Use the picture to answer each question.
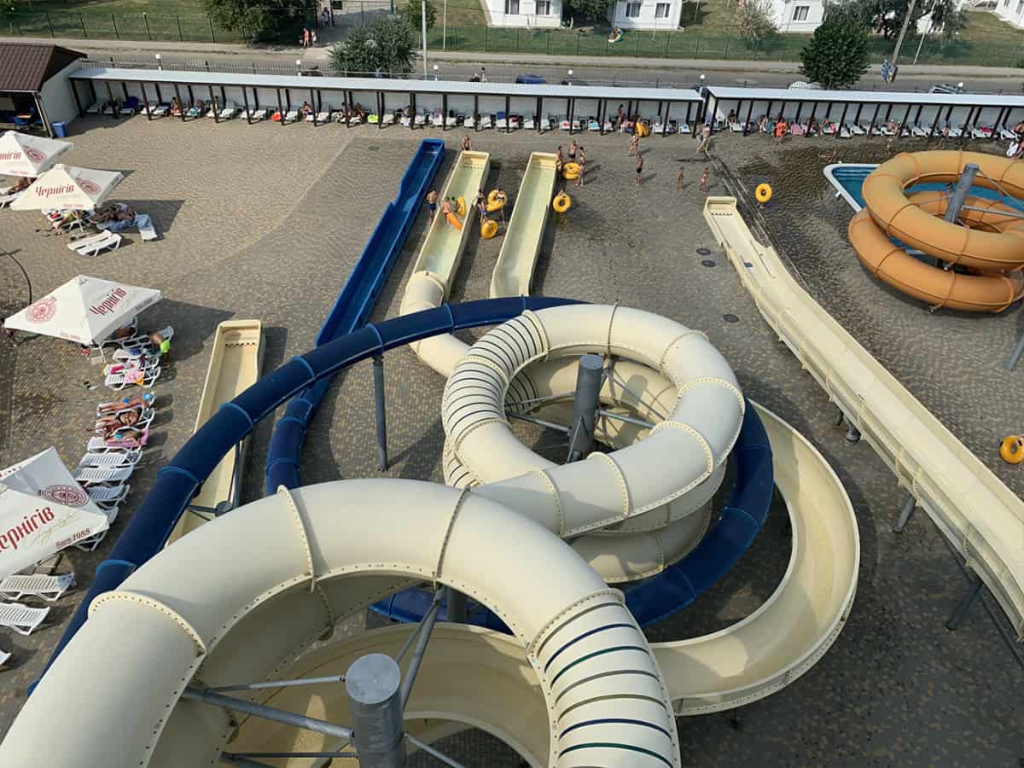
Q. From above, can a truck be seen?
No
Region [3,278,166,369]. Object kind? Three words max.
umbrella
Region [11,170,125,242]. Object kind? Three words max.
umbrella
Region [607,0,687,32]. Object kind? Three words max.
house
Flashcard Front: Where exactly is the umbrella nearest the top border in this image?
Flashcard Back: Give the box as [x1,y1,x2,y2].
[0,140,73,194]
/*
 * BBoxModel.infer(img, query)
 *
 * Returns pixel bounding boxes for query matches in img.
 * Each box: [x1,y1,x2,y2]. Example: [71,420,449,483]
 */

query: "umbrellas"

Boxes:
[0,140,73,194]
[3,278,166,369]
[11,170,125,242]
[0,448,113,598]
